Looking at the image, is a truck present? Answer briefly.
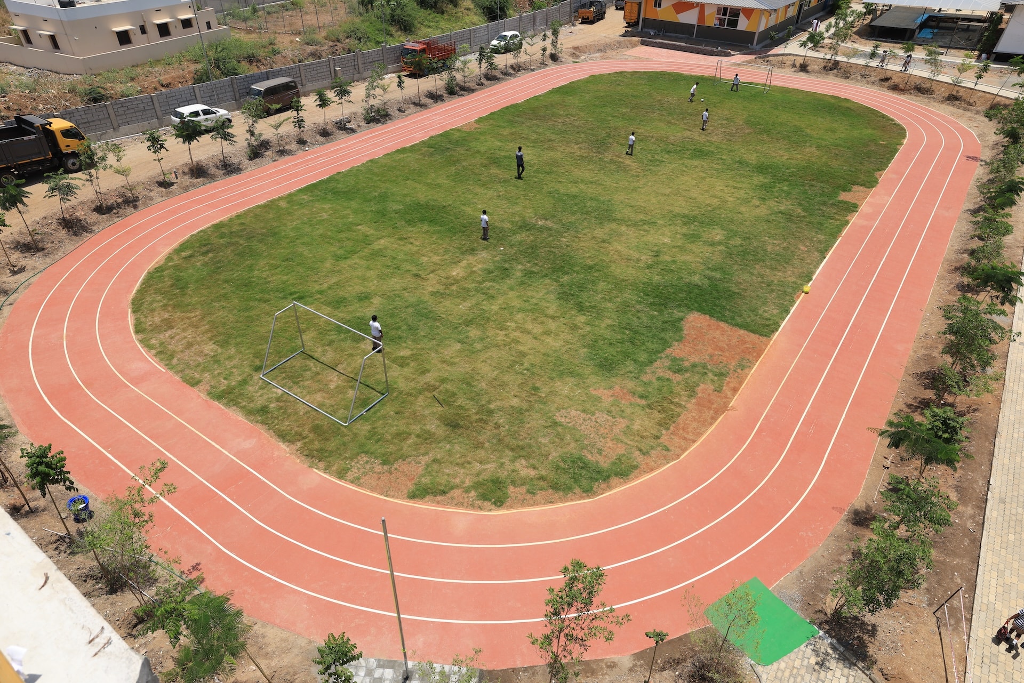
Yes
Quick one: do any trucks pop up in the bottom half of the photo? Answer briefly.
No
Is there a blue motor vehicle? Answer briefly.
No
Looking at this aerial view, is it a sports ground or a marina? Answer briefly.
sports ground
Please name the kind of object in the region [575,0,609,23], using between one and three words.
truck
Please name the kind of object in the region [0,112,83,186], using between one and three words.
truck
